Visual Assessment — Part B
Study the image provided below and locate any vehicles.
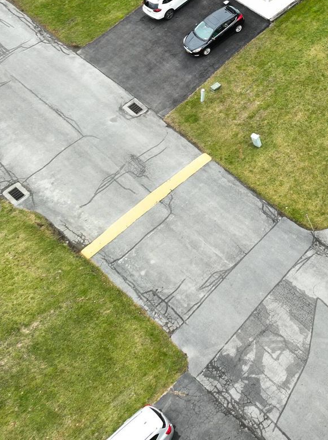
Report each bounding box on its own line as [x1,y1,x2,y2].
[106,407,177,440]
[143,0,192,20]
[185,4,245,57]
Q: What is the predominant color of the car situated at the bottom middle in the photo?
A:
white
